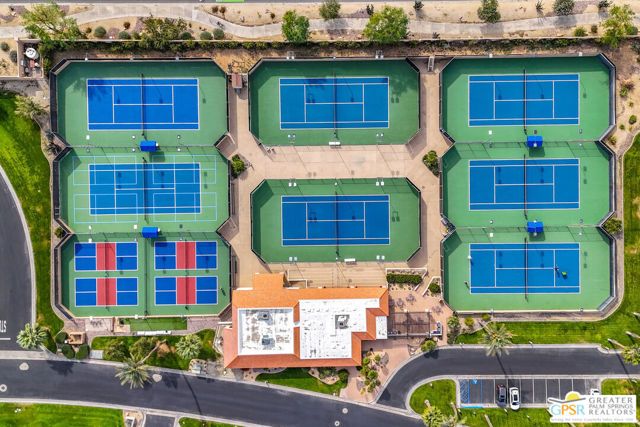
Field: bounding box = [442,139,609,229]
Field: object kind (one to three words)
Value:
tennis court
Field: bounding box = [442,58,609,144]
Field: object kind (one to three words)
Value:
tennis court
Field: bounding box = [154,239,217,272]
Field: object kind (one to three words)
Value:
sports court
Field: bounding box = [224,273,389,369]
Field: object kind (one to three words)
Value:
building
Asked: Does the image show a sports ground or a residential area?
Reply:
sports ground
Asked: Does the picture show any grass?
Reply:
Yes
